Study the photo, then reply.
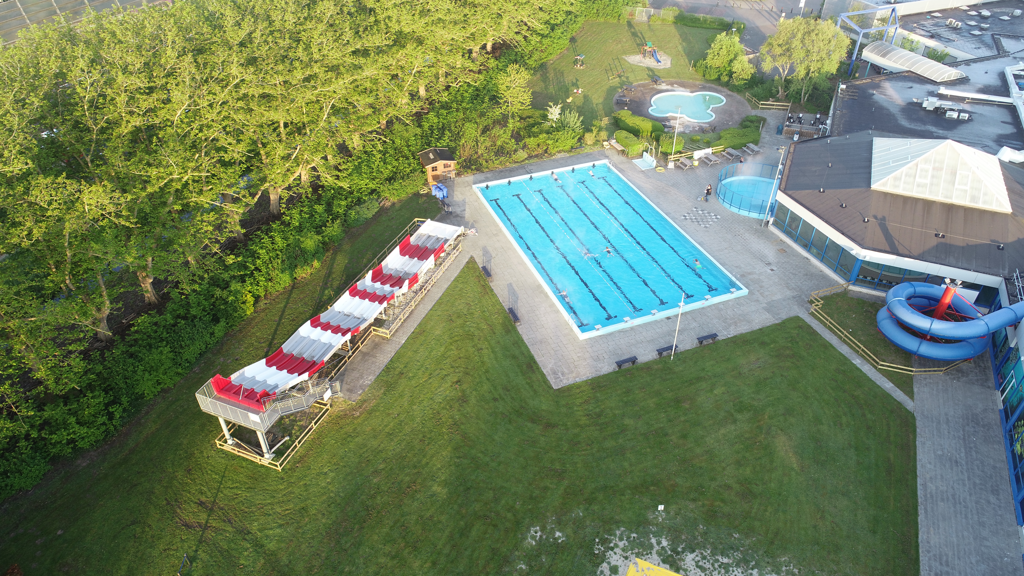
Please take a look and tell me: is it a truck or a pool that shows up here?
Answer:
pool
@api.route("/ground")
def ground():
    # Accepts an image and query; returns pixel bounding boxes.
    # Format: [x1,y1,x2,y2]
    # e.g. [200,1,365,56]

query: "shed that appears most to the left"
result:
[417,146,459,182]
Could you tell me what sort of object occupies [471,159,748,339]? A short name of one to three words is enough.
swimming pool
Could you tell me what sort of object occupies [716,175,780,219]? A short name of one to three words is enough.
swimming pool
